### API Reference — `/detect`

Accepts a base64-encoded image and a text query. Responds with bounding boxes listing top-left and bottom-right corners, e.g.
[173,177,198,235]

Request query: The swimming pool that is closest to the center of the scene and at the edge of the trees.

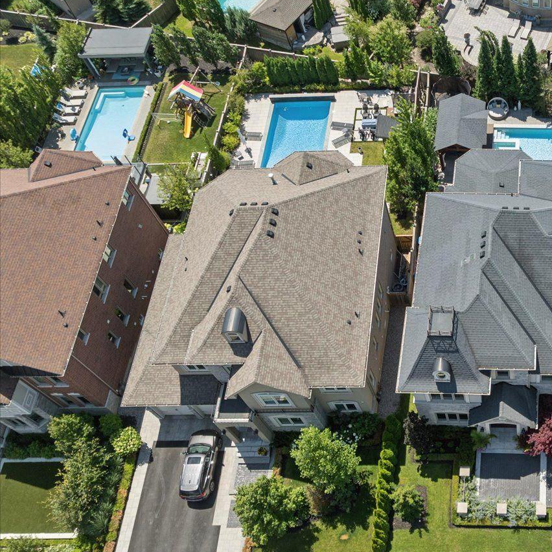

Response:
[255,94,336,167]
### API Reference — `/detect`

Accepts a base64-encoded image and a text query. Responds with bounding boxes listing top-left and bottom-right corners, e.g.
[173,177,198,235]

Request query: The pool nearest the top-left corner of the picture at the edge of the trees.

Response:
[71,84,149,165]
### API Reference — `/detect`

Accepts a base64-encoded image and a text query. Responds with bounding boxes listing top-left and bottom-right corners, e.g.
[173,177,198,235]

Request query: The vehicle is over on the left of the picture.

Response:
[170,429,222,505]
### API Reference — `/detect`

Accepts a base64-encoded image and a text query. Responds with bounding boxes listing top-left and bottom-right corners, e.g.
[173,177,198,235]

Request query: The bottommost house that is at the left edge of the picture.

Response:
[0,148,164,472]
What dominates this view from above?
buildings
